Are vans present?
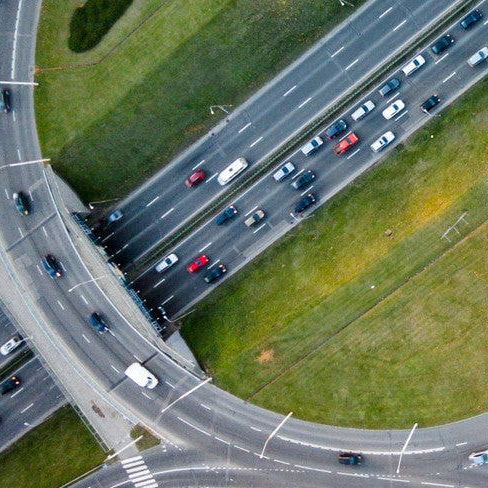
Yes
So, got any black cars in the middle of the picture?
Yes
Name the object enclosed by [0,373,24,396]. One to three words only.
car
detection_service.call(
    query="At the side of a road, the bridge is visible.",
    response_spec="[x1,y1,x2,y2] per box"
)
[0,151,217,453]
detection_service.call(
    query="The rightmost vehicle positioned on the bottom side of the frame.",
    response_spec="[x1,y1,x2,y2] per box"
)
[468,448,488,465]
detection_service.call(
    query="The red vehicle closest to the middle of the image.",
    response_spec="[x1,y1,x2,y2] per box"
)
[186,253,210,275]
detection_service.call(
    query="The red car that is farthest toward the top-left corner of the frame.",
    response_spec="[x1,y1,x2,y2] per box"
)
[184,167,208,189]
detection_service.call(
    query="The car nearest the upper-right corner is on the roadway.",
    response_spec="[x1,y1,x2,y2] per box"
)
[458,9,484,31]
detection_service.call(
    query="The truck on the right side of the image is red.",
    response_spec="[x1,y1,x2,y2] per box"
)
[332,132,359,157]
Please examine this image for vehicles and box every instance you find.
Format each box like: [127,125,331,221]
[154,301,172,319]
[324,119,348,141]
[0,373,24,396]
[0,334,24,356]
[378,76,402,98]
[13,190,33,218]
[332,132,359,157]
[336,450,364,466]
[102,208,127,229]
[0,85,12,113]
[242,207,268,230]
[203,262,227,284]
[299,135,325,158]
[270,161,294,184]
[293,191,318,215]
[468,448,488,465]
[292,169,316,191]
[124,362,158,387]
[382,98,407,121]
[458,9,484,31]
[216,157,250,186]
[417,92,444,114]
[370,129,395,153]
[186,253,210,275]
[431,33,455,54]
[466,45,488,68]
[184,167,208,189]
[350,100,376,122]
[155,251,181,274]
[401,54,426,77]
